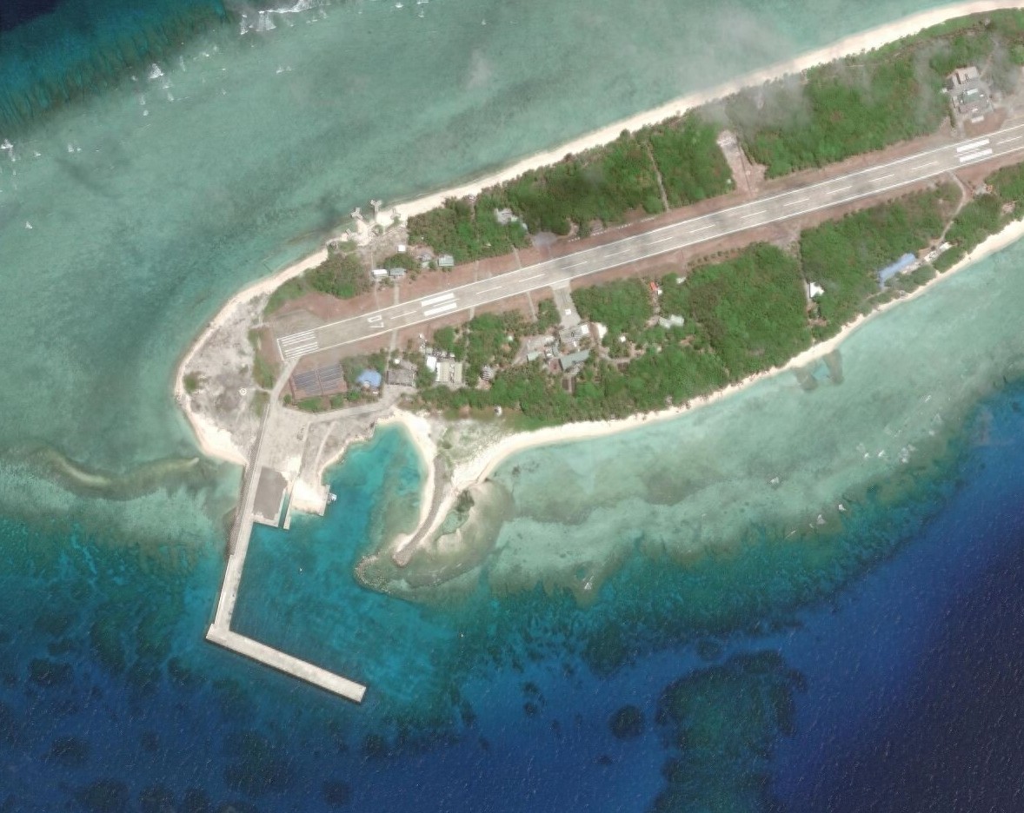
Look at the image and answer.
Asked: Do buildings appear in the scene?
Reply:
Yes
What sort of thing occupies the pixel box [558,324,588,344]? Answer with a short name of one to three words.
building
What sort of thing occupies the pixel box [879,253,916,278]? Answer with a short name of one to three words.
building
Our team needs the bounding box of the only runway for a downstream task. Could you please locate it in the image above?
[276,123,1024,361]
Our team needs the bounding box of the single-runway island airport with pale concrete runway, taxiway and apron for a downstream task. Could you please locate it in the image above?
[265,123,1024,361]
